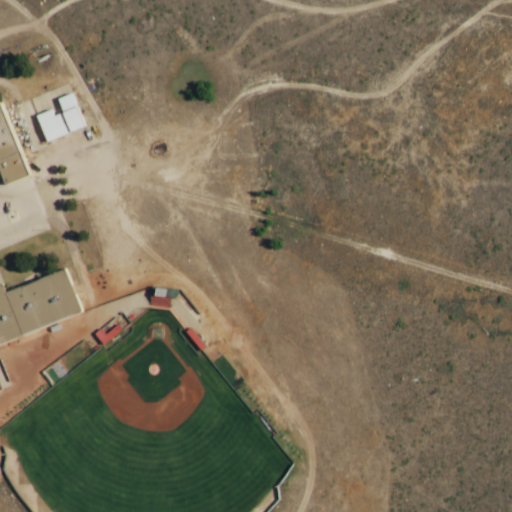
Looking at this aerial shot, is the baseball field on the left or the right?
left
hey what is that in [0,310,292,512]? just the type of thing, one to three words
baseball field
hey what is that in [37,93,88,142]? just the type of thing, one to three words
shed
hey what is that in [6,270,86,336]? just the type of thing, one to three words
building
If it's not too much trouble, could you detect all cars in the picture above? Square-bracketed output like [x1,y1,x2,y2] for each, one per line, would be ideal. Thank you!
[31,163,40,171]
[86,128,92,137]
[4,204,8,213]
